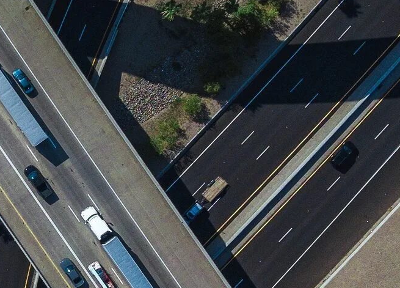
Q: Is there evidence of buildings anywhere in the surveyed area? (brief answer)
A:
No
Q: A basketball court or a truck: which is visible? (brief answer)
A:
truck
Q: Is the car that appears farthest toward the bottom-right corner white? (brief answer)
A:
No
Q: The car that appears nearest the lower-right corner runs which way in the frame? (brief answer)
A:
on a diagonal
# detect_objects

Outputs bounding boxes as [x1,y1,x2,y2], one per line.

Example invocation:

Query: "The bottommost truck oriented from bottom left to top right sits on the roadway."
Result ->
[182,197,210,226]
